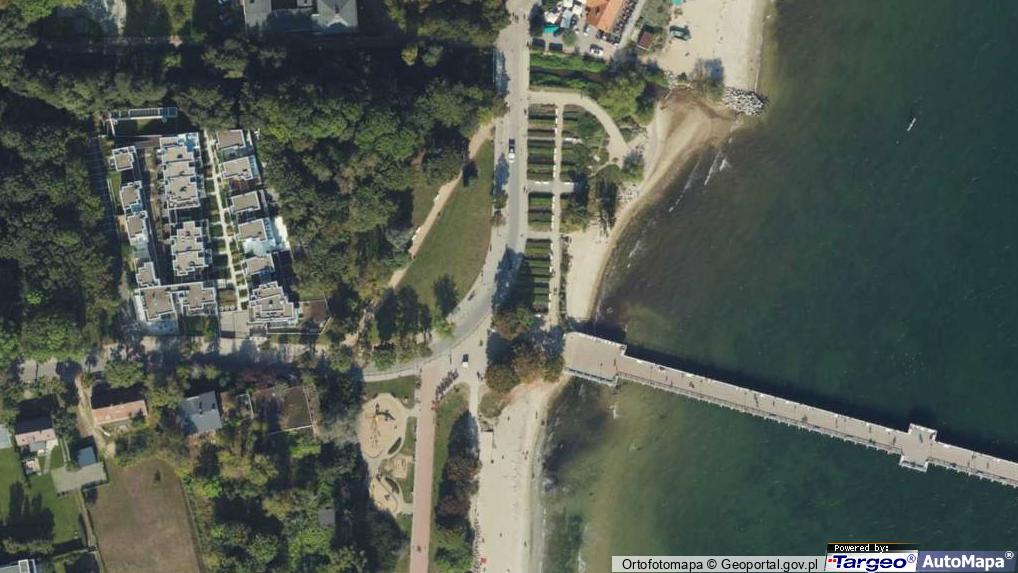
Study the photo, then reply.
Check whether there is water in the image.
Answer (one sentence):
Yes, the picture does contain water.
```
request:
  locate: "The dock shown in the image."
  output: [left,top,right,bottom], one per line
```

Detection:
[565,332,1018,488]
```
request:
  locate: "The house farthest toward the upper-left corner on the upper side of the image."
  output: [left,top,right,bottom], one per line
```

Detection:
[107,146,138,173]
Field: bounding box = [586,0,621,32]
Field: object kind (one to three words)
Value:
building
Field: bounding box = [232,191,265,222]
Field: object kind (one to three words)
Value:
house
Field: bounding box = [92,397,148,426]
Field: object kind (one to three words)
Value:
house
